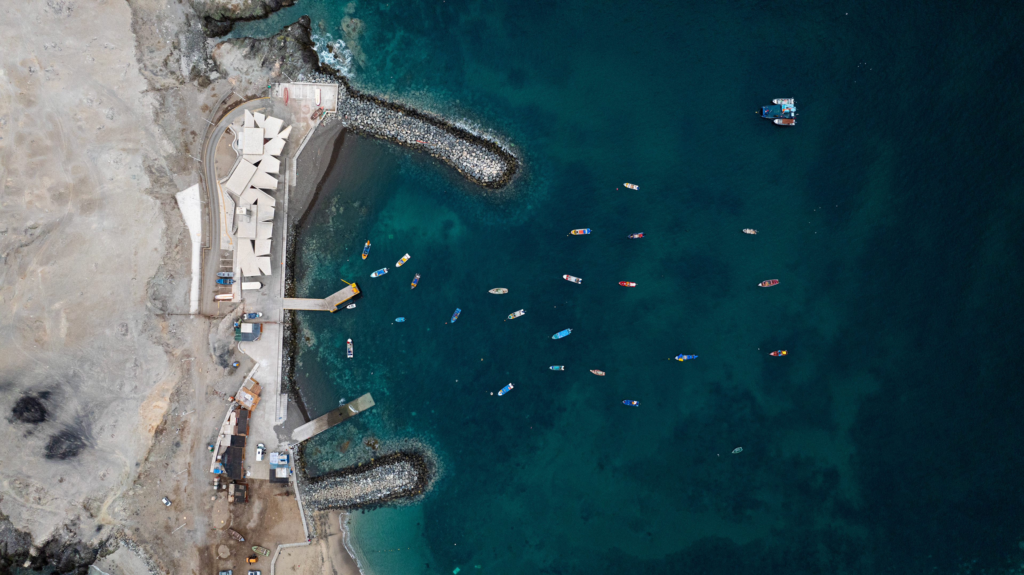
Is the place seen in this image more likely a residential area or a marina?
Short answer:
marina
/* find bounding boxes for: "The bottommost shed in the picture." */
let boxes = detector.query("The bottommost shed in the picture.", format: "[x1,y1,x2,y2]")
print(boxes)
[228,480,250,503]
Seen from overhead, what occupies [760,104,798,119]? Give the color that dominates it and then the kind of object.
blue boat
